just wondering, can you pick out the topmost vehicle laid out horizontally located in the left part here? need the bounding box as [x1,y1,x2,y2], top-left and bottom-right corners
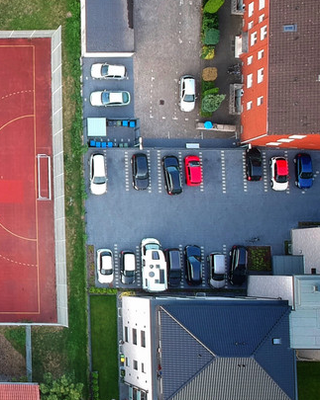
[90,62,126,80]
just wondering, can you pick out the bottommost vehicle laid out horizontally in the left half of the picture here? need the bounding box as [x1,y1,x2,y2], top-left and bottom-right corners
[89,90,130,107]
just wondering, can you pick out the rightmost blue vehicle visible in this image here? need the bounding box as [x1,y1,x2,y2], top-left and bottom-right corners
[293,153,315,190]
